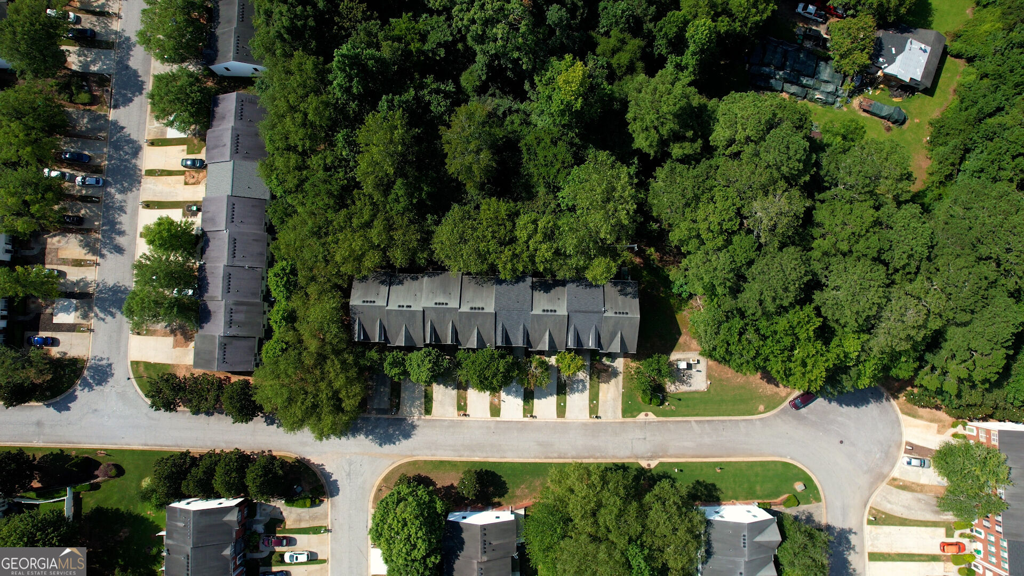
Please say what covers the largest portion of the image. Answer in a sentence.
The largest share of the image is taken up by trees.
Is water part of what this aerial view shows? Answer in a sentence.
No, water can't be seen anywhere here.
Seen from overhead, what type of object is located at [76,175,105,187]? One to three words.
vehicle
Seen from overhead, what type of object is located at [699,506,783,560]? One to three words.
house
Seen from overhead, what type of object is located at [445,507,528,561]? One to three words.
house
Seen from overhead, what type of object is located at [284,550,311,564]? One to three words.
car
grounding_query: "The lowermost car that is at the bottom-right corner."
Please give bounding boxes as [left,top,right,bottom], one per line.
[938,541,966,555]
